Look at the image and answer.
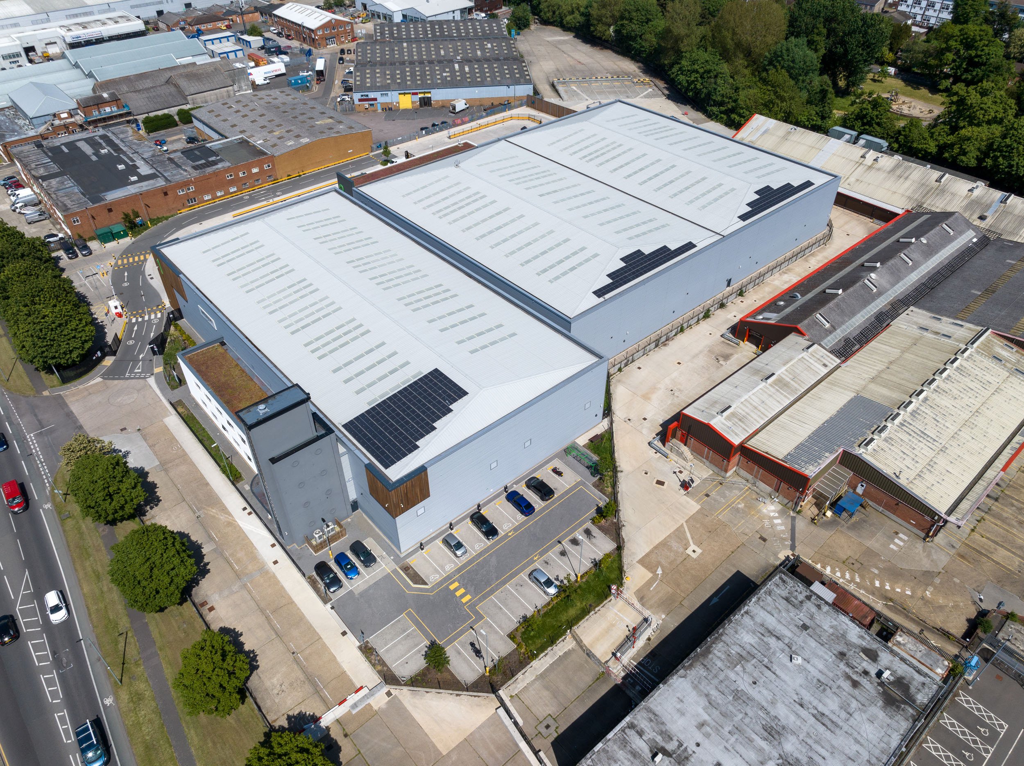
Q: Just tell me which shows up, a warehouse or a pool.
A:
warehouse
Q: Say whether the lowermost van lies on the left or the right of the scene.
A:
left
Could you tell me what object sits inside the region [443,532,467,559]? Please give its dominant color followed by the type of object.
gray car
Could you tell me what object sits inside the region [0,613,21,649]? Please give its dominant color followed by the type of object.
black car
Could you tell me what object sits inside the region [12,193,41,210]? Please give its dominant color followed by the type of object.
gray vehicle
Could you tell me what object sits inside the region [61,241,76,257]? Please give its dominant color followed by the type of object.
black car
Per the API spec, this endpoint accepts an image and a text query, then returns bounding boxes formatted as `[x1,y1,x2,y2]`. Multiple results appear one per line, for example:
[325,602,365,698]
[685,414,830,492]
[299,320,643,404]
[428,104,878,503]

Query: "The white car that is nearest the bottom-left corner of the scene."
[44,589,70,625]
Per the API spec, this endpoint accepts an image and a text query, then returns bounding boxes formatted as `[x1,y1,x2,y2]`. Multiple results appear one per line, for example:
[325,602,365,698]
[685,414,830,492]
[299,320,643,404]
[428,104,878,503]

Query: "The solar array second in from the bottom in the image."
[591,239,697,298]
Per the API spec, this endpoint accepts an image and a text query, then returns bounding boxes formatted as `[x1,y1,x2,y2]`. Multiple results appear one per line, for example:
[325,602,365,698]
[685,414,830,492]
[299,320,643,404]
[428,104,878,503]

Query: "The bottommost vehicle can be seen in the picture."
[73,717,108,766]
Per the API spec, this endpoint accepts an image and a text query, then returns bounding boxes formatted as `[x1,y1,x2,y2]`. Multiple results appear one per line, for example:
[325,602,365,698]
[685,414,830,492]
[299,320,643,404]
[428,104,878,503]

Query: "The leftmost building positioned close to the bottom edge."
[577,567,945,766]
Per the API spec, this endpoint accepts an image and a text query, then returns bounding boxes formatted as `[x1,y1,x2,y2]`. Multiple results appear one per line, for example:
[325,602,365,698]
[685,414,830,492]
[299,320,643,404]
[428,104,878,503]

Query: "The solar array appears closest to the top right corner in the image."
[736,178,815,221]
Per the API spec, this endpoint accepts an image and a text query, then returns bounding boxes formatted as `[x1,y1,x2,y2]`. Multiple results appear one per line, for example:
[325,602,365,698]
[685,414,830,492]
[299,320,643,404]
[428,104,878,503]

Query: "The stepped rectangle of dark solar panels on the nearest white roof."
[342,367,469,469]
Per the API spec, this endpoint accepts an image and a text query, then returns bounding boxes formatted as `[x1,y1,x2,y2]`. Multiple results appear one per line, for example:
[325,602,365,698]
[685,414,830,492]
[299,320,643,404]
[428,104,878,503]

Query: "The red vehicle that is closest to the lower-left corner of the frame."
[1,478,28,514]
